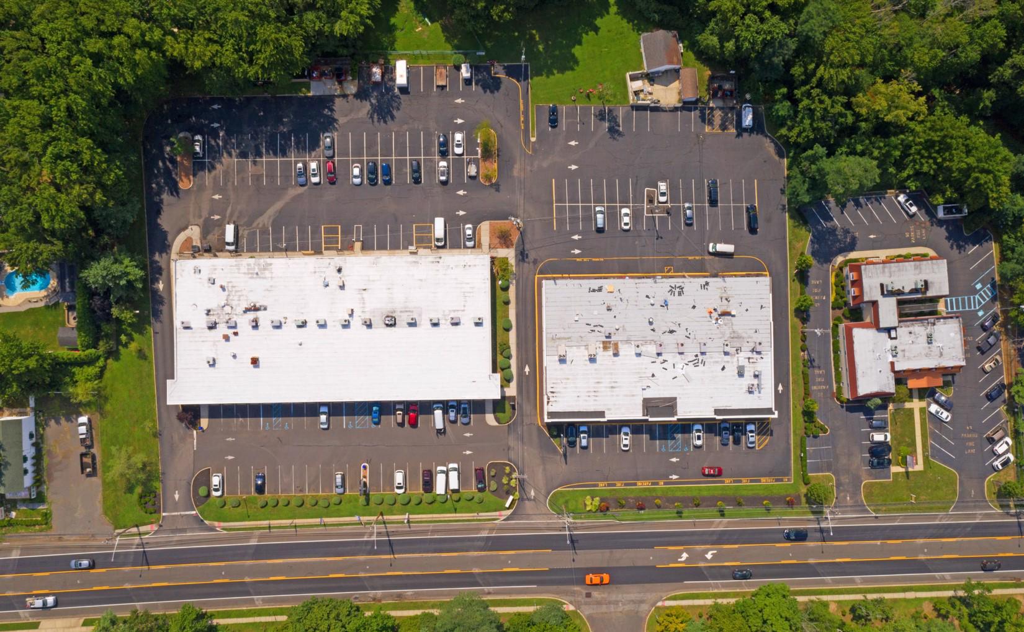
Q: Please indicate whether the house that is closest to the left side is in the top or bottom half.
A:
bottom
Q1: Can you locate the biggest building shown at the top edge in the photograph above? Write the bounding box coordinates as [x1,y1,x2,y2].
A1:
[639,29,687,74]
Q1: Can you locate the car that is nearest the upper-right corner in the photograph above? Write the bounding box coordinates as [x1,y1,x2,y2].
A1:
[896,193,917,217]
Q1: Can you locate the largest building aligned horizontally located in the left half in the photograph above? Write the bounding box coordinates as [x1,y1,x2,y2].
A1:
[166,254,502,405]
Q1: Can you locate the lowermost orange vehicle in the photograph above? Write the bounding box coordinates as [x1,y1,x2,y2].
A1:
[585,573,610,585]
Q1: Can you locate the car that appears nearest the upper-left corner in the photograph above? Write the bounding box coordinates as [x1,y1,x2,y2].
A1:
[192,134,205,158]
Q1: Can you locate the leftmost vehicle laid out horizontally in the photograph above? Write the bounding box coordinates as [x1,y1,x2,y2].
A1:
[26,594,59,609]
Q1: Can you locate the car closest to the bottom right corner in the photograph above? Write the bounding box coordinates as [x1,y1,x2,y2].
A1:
[978,559,1000,571]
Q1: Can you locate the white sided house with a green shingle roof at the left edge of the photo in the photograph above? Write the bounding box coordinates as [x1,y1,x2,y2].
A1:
[0,416,40,499]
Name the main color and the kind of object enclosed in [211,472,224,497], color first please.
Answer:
white vehicle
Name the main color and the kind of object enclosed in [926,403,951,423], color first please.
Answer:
white car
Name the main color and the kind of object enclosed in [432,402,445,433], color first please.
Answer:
white vehicle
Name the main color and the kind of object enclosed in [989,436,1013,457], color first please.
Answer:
white car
